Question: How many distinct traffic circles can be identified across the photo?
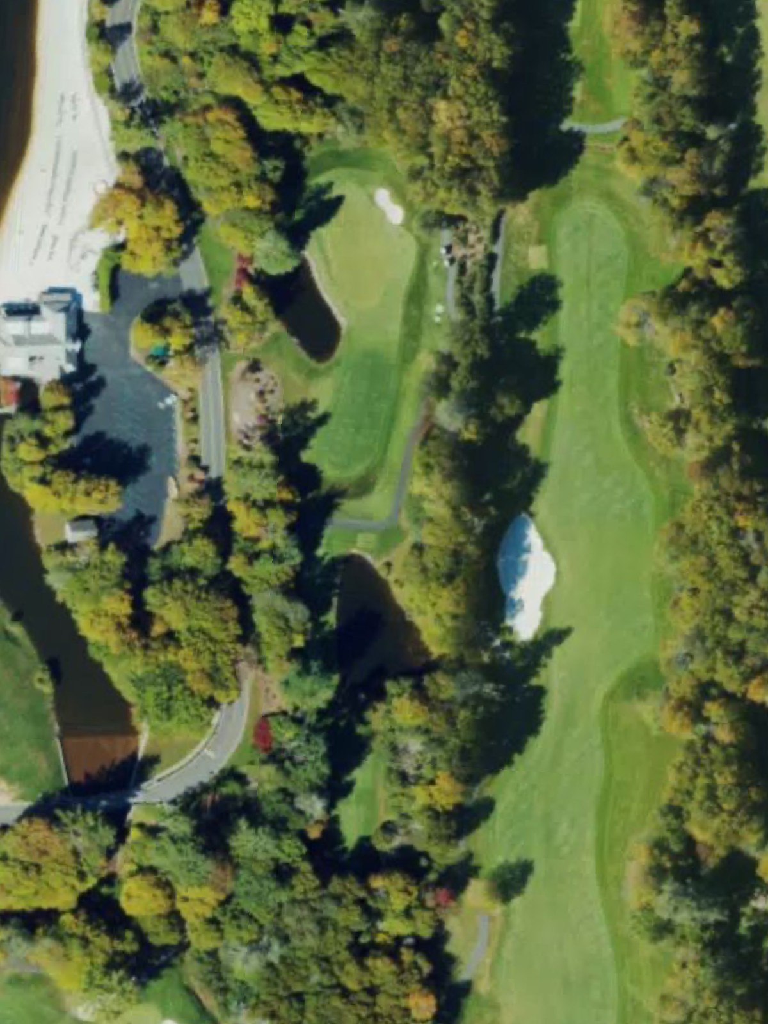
none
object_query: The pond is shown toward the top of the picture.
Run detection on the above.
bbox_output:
[268,255,342,360]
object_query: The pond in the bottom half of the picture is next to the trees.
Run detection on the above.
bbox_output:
[337,555,435,697]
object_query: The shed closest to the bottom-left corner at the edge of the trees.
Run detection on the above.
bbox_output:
[65,519,97,543]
